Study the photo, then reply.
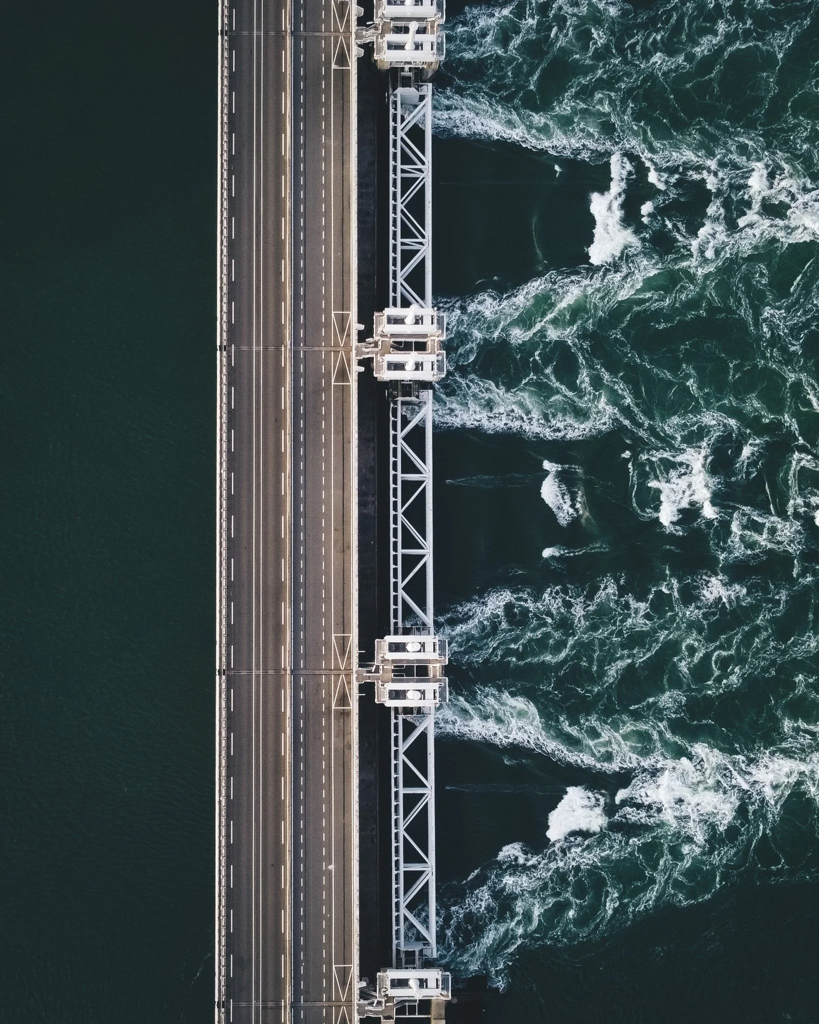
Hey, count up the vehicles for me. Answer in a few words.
zero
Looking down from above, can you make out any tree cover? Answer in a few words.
No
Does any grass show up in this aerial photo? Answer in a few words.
No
